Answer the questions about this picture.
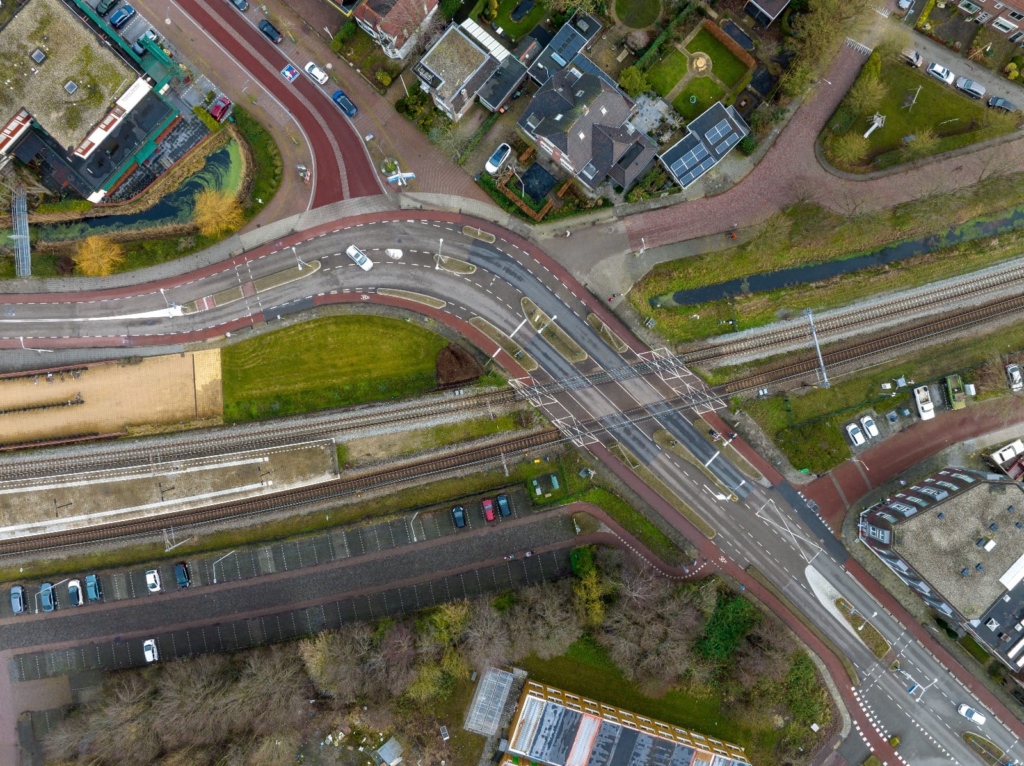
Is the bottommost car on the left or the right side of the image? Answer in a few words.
right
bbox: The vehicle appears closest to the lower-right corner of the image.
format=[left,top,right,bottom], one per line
[954,700,986,727]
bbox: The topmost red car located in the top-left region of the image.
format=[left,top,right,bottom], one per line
[209,98,234,123]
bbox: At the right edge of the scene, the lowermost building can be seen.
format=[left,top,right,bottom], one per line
[851,472,1024,691]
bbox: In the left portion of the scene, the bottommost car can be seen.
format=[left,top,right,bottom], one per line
[143,637,159,662]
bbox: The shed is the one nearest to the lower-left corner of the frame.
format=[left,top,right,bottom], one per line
[377,729,405,766]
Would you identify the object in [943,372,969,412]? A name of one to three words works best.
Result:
truck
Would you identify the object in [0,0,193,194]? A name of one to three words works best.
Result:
building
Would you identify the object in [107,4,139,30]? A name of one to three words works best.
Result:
car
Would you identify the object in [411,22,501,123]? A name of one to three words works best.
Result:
house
